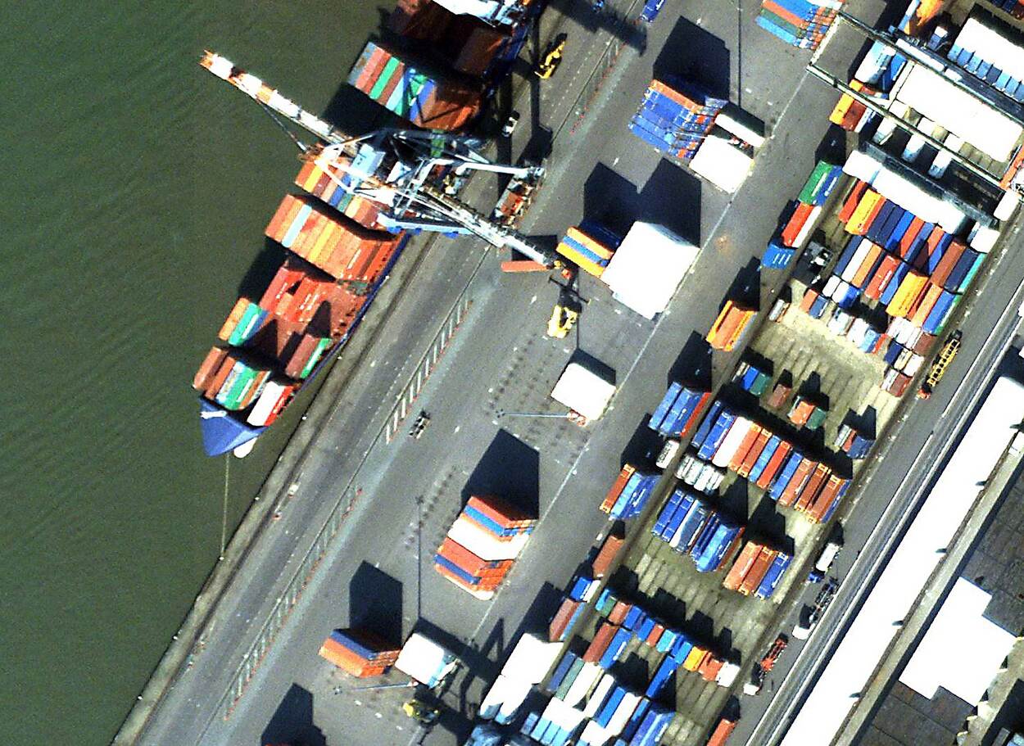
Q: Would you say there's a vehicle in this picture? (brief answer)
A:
Yes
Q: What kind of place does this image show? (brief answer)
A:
port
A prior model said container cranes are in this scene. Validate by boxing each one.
[805,8,1024,199]
[190,46,558,268]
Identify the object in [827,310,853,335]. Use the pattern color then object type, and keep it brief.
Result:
white shipping container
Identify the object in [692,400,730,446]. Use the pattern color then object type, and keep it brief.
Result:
blue shipping container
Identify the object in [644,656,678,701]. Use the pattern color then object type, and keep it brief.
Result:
blue shipping container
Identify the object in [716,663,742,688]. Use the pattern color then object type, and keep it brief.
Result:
white shipping container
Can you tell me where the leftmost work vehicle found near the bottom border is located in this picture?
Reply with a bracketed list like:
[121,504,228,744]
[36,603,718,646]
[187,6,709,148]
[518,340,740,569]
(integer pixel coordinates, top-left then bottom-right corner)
[404,700,443,726]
